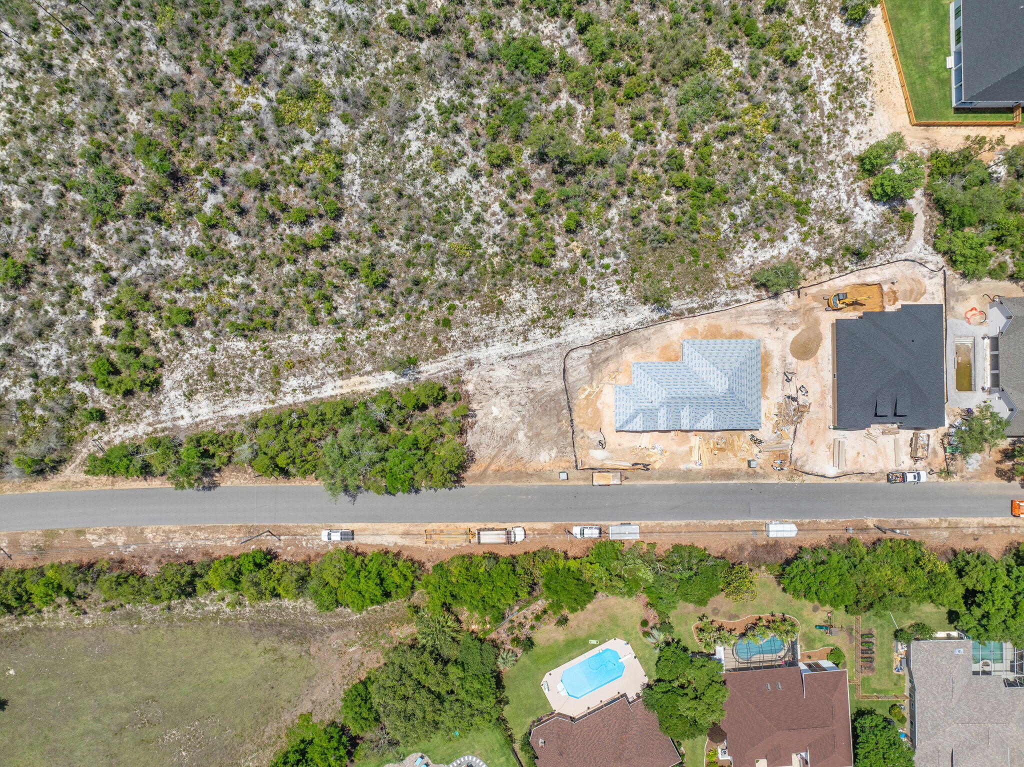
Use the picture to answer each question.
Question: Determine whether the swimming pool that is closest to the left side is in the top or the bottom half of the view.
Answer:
bottom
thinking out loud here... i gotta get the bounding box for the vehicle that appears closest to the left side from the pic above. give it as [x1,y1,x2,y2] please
[321,530,353,544]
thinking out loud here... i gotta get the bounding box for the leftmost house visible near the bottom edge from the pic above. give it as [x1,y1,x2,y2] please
[530,687,681,767]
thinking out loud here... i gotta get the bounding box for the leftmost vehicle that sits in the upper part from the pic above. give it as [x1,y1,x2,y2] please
[824,292,876,311]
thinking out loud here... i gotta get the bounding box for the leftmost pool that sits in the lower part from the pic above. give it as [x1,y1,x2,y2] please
[541,638,648,719]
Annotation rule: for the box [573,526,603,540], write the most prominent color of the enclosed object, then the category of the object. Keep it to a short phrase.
white vehicle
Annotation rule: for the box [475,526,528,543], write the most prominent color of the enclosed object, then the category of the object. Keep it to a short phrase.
white vehicle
